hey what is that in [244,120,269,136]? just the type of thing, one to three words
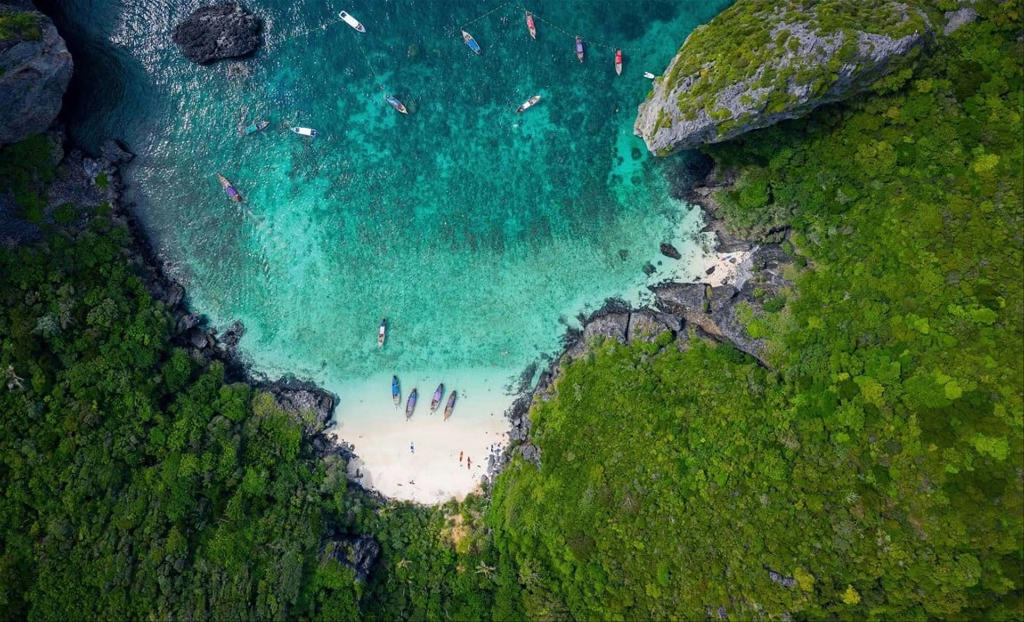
boat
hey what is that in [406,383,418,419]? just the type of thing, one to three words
boat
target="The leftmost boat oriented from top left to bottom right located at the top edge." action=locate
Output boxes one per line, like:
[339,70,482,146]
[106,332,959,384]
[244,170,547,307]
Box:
[339,10,365,32]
